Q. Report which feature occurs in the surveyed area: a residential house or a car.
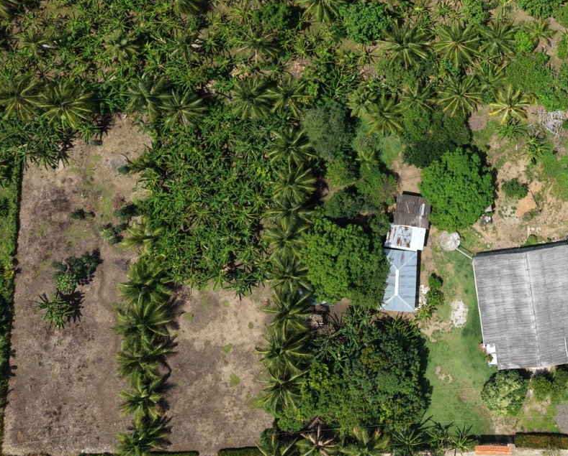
residential house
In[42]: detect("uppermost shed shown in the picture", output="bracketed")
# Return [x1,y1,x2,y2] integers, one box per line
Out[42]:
[394,193,430,229]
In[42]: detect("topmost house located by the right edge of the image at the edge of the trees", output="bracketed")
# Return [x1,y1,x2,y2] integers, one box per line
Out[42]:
[472,241,568,371]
